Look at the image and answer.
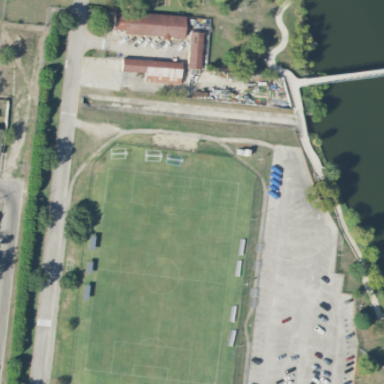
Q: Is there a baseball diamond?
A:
No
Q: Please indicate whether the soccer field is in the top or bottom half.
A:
bottom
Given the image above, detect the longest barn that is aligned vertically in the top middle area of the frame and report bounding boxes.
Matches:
[190,30,204,69]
